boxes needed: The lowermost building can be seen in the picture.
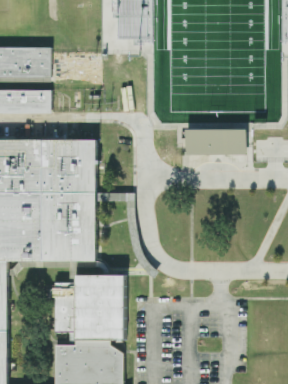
[57,340,125,384]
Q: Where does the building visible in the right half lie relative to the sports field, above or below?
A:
below it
